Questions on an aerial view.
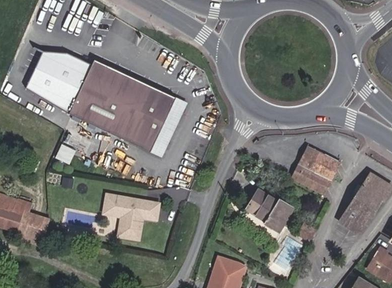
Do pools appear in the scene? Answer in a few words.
Yes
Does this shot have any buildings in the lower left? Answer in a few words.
Yes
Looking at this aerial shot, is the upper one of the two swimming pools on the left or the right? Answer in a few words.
left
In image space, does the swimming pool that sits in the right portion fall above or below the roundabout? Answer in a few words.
below it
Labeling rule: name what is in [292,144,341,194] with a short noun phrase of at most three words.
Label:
house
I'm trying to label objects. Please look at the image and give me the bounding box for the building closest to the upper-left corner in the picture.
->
[26,52,88,112]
